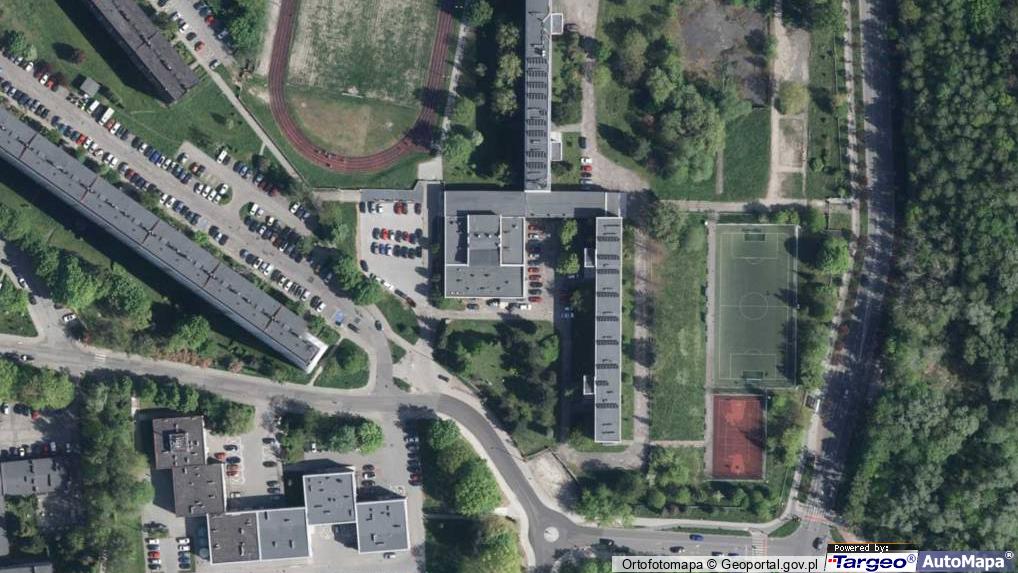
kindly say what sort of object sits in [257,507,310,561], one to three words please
building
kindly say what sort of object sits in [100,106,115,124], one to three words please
vehicle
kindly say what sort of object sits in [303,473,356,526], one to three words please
building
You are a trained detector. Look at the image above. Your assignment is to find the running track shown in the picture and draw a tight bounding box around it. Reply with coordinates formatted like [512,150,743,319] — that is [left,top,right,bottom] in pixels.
[269,0,454,171]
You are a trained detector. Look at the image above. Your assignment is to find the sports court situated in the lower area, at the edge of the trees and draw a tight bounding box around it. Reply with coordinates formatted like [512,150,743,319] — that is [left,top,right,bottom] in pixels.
[713,395,765,479]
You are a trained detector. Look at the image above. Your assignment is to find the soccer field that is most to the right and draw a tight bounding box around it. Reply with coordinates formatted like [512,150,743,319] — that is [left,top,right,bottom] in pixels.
[716,225,797,388]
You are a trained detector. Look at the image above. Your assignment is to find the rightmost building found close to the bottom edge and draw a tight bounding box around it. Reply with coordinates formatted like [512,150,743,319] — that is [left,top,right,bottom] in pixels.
[356,498,411,554]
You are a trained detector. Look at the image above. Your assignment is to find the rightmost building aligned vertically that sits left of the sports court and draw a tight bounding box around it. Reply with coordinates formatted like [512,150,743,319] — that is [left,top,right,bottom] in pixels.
[582,217,621,446]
